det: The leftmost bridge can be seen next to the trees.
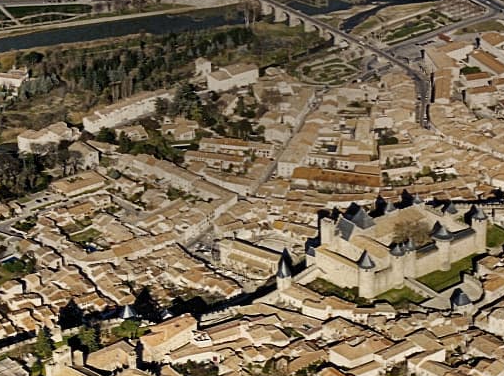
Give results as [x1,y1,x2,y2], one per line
[255,0,413,78]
